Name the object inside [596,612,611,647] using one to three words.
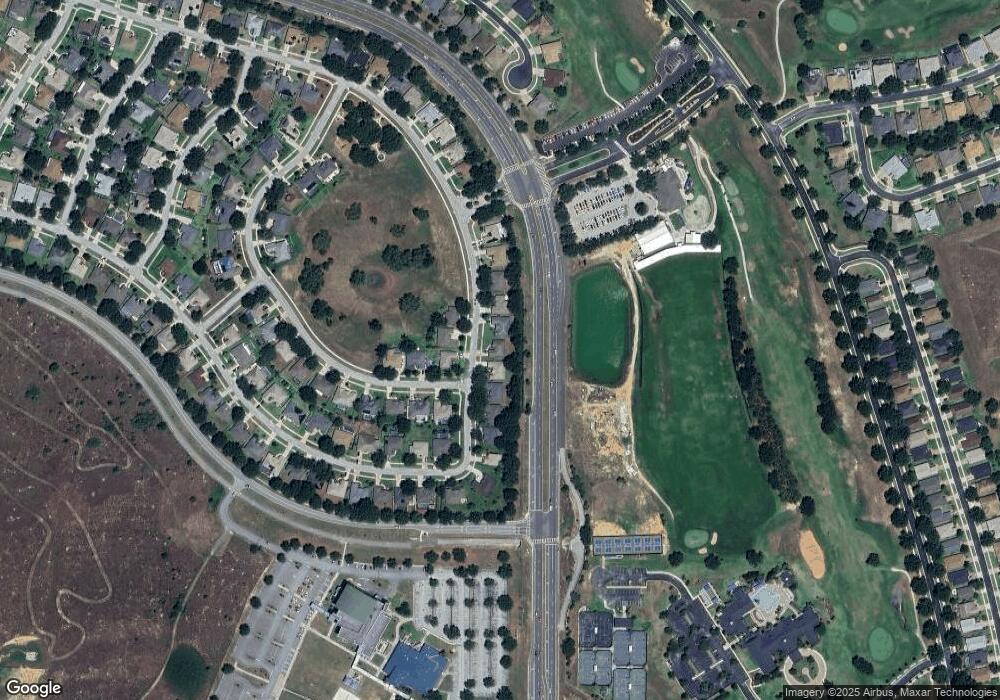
tennis court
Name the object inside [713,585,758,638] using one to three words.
building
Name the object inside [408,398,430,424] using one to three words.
house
